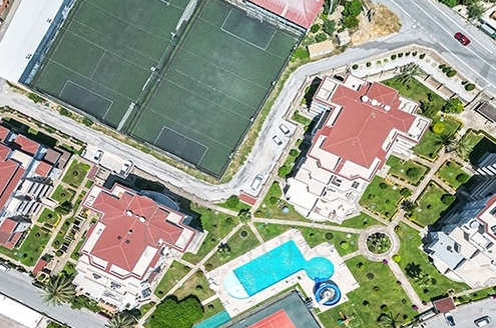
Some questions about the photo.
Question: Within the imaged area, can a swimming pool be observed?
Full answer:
Yes, a swimming pool is visible in the scene.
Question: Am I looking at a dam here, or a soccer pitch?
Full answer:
There is a soccer pitch in the scene.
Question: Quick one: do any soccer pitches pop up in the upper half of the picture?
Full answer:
Yes, I can see a soccer pitch in the upper half of the picture.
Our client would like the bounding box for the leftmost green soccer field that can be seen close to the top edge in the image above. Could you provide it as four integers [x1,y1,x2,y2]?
[33,0,189,128]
